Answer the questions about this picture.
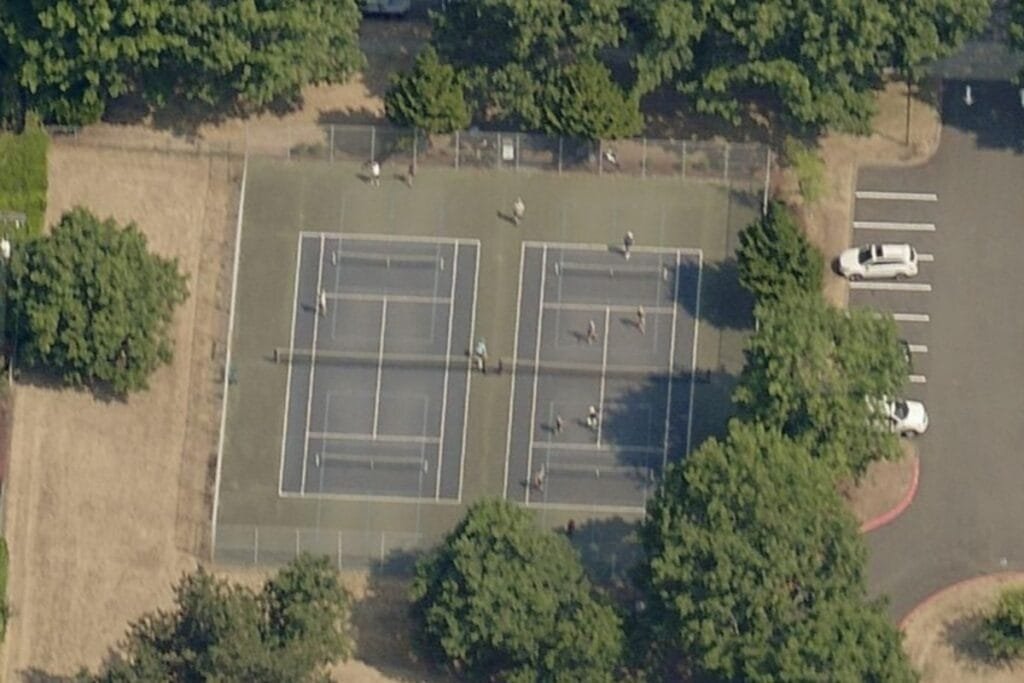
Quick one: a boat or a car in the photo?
car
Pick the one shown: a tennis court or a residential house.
tennis court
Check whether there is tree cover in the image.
Yes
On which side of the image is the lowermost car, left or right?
right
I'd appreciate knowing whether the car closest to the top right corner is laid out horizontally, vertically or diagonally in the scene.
horizontally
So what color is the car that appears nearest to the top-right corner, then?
white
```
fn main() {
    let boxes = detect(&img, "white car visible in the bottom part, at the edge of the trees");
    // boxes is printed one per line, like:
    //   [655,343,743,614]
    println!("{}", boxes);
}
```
[881,404,929,438]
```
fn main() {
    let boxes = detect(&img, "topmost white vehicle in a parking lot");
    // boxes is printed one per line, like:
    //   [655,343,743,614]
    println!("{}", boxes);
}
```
[840,245,918,284]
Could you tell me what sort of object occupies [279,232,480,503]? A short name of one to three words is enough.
tennis court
